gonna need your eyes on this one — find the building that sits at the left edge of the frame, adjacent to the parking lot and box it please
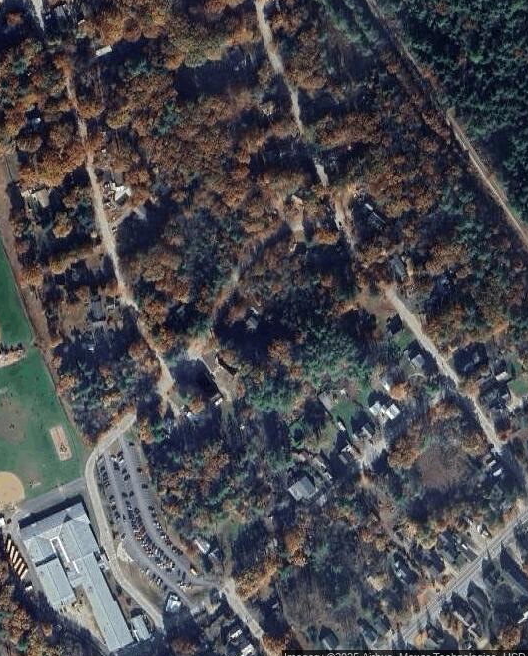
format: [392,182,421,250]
[20,502,134,653]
